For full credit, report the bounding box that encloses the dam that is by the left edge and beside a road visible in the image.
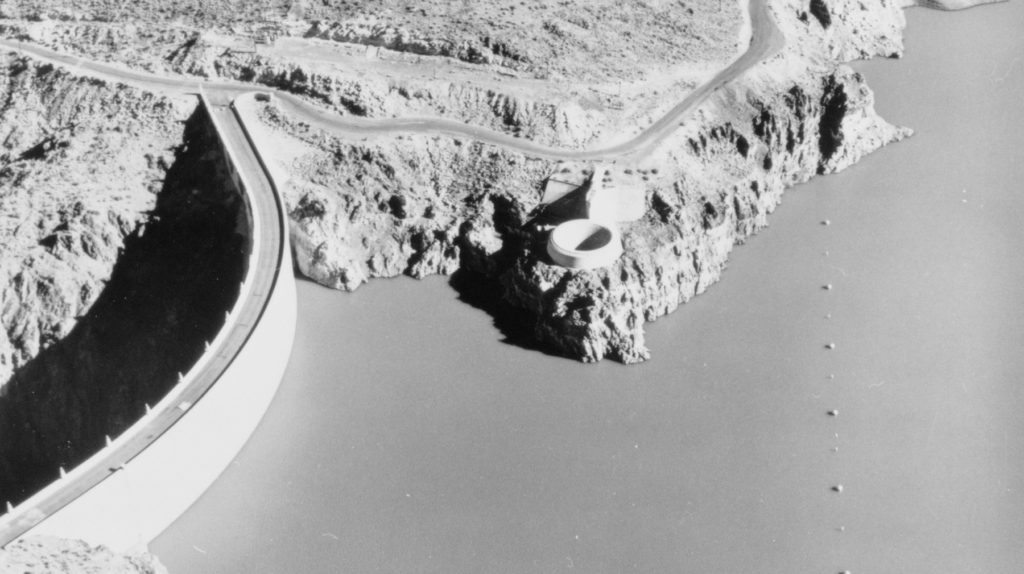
[0,95,298,566]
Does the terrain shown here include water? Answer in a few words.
Yes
